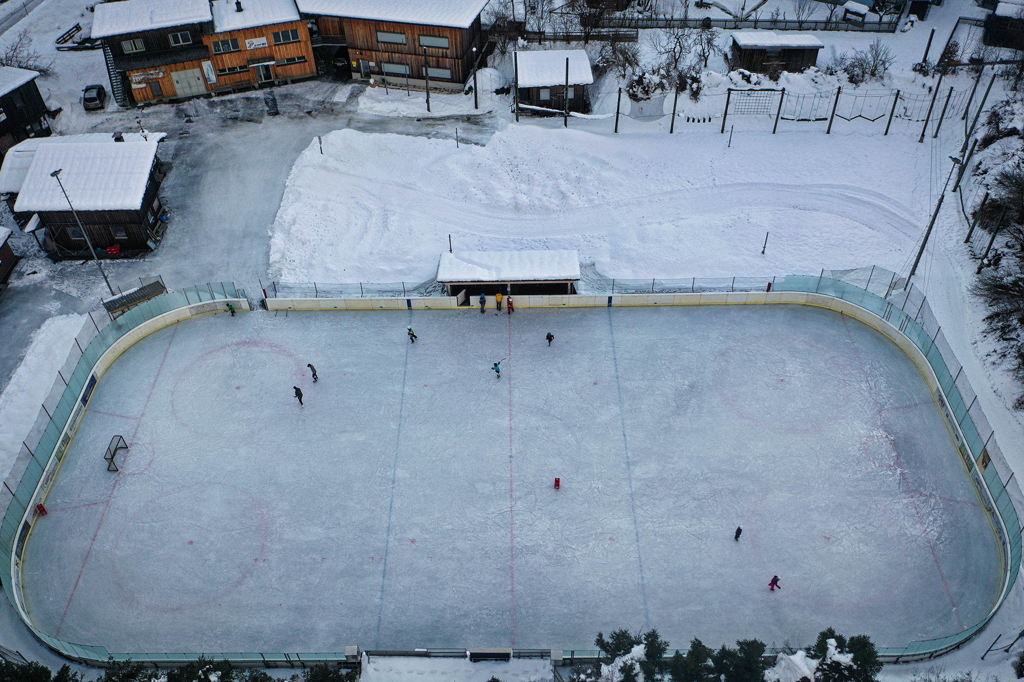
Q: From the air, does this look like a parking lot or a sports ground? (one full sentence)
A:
This image shows a sports ground.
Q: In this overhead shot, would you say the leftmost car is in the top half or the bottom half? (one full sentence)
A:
The leftmost car sits in the top half of the picture.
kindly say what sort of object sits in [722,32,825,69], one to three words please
shed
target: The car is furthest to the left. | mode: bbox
[80,84,107,108]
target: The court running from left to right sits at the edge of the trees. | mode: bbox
[11,307,1010,676]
